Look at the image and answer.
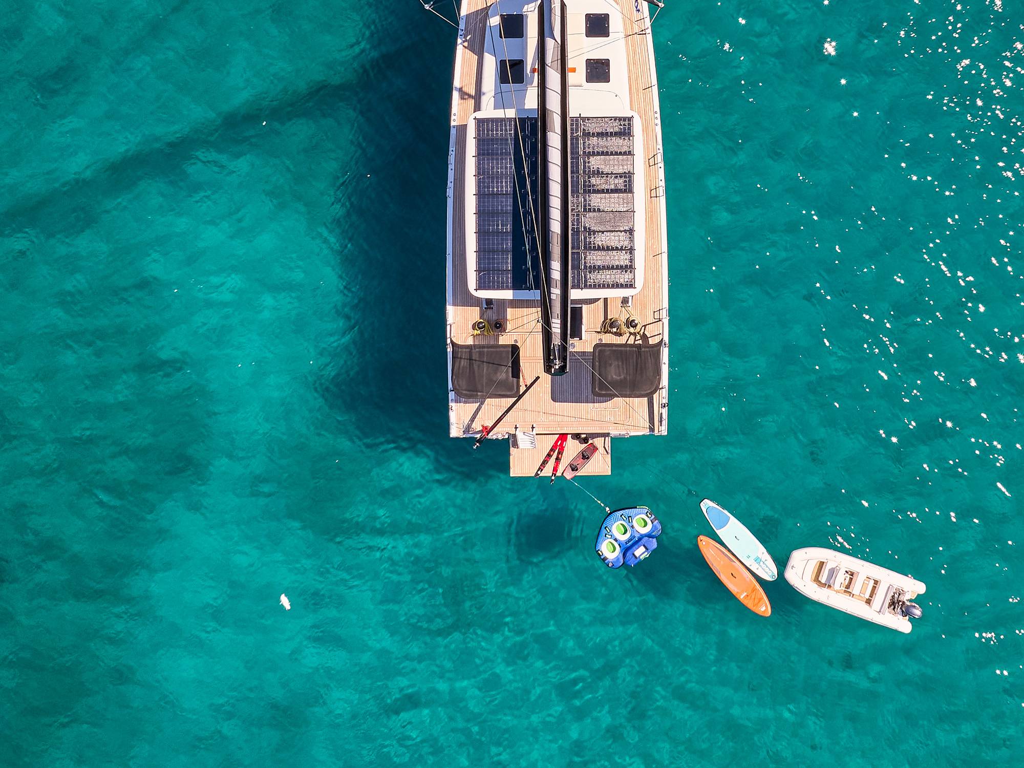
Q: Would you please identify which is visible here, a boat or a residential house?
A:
boat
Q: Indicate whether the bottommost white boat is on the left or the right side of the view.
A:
right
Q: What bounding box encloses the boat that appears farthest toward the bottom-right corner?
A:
[785,547,930,634]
